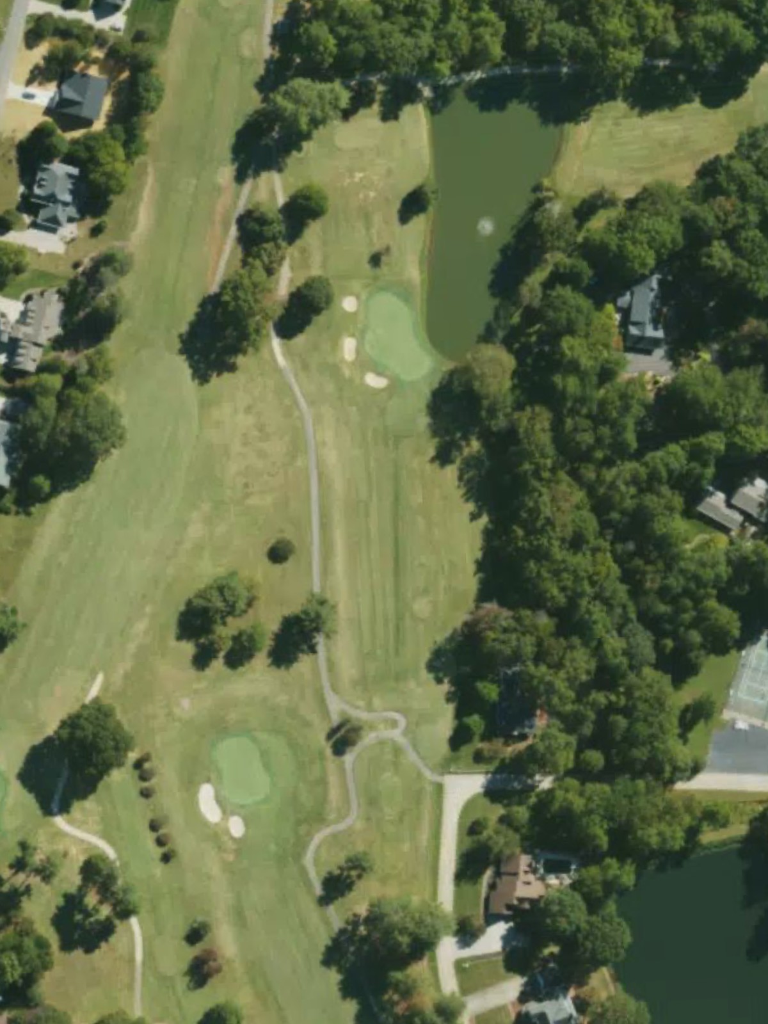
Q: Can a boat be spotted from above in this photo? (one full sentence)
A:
No, no boat can be seen from above.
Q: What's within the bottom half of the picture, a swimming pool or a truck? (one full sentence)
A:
What appears within the bottom half of the picture is a swimming pool.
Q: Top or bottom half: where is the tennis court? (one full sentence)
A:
The bottom half of the photo is where the tennis court is.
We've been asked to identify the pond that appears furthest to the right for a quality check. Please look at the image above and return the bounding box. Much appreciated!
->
[615,835,768,1024]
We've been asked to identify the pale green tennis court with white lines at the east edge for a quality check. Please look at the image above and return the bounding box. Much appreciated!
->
[720,617,768,718]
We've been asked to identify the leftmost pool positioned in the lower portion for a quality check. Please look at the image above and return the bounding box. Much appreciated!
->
[538,853,576,879]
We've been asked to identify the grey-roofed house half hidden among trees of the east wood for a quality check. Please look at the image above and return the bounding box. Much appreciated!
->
[614,270,669,350]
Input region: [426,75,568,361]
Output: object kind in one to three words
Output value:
pond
